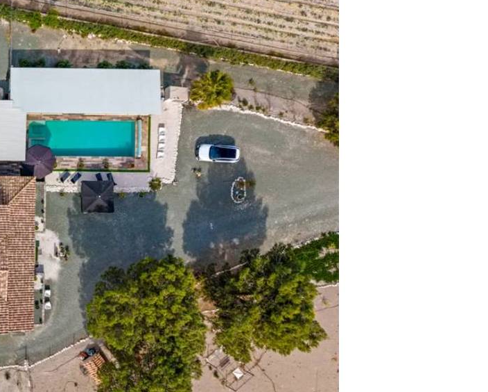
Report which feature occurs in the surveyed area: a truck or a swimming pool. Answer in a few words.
swimming pool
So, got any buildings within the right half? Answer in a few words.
No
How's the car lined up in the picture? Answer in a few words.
from left to right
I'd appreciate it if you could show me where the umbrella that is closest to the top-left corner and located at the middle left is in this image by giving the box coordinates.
[23,146,55,178]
